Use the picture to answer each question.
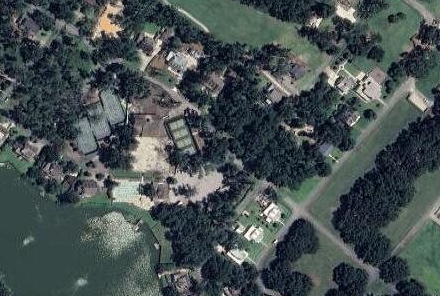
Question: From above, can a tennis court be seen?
Yes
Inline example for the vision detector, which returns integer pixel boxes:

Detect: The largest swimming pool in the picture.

[111,180,141,202]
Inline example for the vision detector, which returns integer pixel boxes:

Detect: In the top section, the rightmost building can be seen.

[352,64,385,106]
